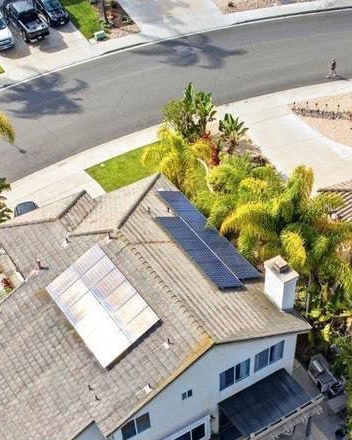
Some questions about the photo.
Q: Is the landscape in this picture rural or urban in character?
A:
urban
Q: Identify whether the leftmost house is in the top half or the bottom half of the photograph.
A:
bottom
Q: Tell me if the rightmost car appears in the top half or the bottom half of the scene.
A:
top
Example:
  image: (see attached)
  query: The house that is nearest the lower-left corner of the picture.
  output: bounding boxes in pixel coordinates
[0,172,314,440]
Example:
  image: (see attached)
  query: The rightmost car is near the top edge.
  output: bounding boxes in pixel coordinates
[31,0,69,26]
